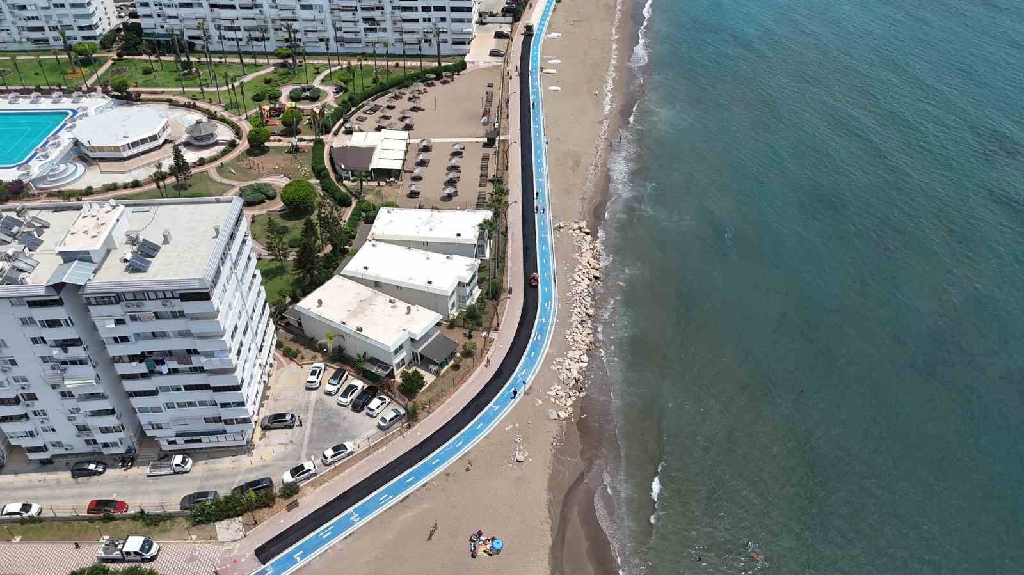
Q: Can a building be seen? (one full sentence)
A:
Yes, this view includes a building.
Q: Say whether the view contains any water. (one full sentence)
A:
Yes, there is water in the image.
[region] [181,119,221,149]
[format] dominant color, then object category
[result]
gray gazebo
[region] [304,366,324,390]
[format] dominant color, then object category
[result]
white car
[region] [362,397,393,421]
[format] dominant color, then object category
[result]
white car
